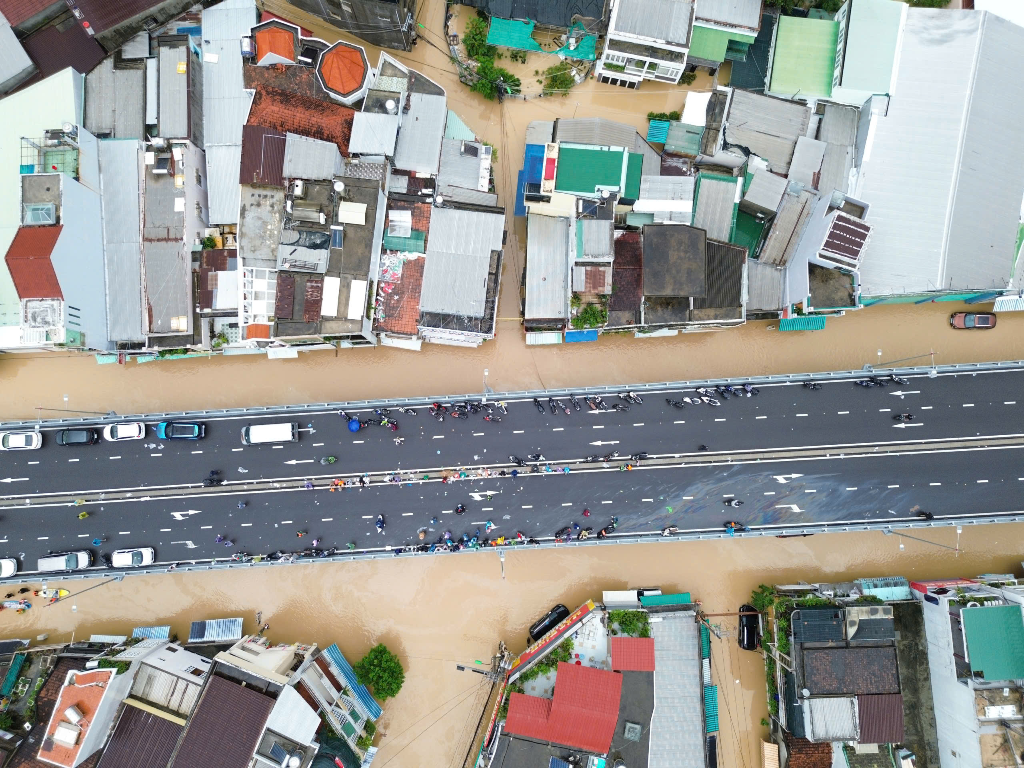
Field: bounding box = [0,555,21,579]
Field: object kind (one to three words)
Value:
car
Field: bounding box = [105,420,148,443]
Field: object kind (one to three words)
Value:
car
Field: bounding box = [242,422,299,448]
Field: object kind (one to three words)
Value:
vehicle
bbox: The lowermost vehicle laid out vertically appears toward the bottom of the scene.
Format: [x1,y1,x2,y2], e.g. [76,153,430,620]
[737,604,759,649]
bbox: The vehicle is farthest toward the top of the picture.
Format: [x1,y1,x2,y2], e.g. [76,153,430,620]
[950,309,997,332]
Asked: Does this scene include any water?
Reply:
Yes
